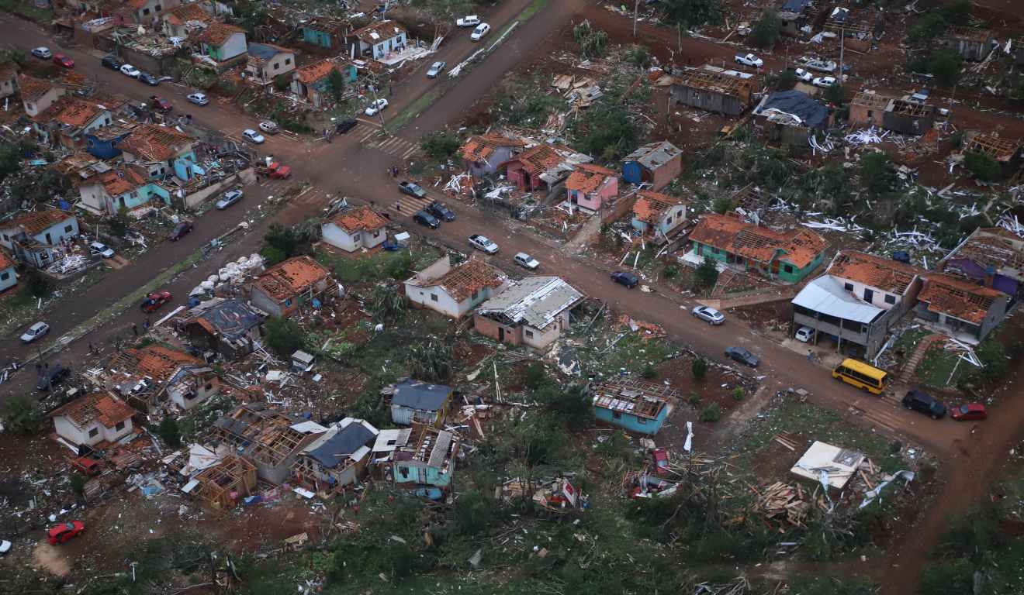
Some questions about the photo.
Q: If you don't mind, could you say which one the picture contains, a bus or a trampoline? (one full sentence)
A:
Visible in the photo is a bus.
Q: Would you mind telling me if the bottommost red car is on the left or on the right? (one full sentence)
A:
The bottommost red car appears in the left half of the scene.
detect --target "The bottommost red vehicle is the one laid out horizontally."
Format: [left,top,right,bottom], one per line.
[46,523,84,544]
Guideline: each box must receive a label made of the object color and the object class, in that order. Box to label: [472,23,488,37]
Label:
white car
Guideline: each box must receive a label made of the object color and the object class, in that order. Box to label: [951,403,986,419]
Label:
red car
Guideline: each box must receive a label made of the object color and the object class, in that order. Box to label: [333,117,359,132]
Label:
black vehicle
